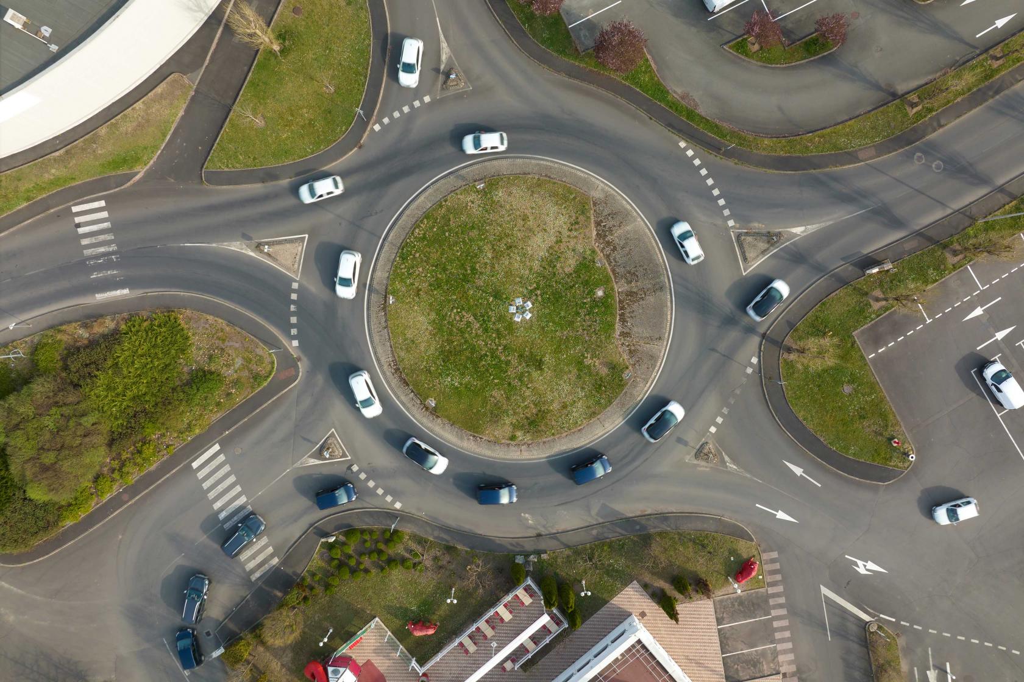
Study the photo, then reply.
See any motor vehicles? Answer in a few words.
Yes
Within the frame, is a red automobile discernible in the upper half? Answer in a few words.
No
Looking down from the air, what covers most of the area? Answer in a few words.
paved ground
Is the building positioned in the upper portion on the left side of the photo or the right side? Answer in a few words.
left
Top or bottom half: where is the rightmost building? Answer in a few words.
bottom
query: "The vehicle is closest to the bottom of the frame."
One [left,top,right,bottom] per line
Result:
[174,626,207,673]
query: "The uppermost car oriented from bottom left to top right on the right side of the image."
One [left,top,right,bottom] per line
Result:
[744,280,788,322]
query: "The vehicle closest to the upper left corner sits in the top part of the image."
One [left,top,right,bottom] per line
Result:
[298,174,347,205]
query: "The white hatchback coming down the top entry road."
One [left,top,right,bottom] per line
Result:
[396,38,424,87]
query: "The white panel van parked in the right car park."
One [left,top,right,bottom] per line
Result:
[980,364,1024,413]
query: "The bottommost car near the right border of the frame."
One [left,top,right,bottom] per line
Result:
[927,495,981,526]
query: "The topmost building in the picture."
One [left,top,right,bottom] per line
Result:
[0,0,219,157]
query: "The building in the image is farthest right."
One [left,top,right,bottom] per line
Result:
[554,616,689,682]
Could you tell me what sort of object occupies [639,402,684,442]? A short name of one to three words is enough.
car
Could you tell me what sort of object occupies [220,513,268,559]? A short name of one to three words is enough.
car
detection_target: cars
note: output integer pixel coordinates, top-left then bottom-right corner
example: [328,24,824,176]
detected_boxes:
[927,495,981,526]
[334,250,363,298]
[396,38,424,87]
[174,626,207,673]
[461,130,509,156]
[349,370,383,418]
[298,174,347,205]
[639,402,684,442]
[569,454,612,486]
[181,570,214,623]
[220,513,268,559]
[314,480,358,513]
[744,280,788,322]
[668,221,708,266]
[475,482,518,506]
[403,435,448,474]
